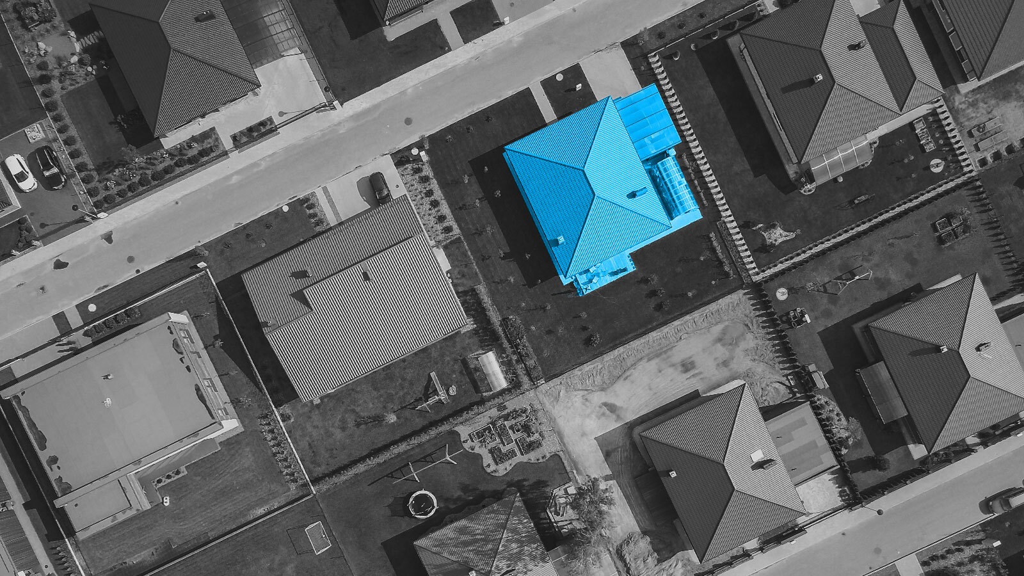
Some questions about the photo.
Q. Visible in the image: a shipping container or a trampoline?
trampoline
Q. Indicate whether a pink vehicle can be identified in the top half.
No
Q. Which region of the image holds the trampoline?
bottom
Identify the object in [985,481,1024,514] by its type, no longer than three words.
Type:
truck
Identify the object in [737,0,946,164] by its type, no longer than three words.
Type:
house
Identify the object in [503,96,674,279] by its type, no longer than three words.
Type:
house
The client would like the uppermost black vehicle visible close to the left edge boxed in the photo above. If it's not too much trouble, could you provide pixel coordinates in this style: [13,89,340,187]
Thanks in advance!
[28,144,61,188]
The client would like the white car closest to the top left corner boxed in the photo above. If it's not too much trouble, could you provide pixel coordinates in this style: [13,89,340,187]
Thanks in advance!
[3,151,32,191]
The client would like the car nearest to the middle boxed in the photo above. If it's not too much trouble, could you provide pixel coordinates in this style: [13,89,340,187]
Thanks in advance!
[367,166,394,206]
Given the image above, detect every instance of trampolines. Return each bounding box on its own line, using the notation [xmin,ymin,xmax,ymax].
[406,491,437,523]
